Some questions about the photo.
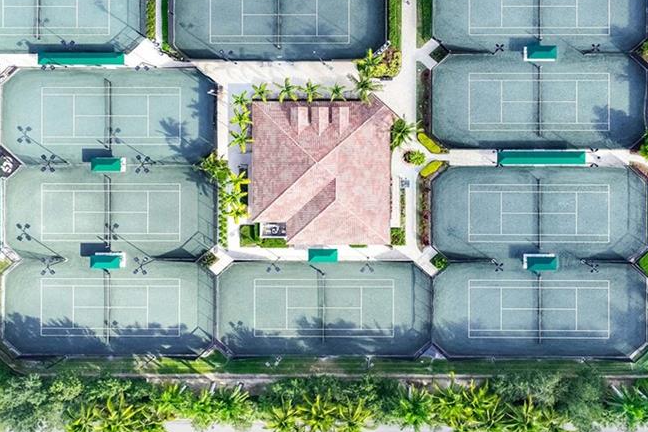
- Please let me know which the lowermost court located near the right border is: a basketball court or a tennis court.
tennis court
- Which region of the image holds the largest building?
center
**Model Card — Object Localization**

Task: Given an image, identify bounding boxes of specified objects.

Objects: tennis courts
[434,0,647,53]
[2,68,214,164]
[435,53,647,148]
[3,259,217,356]
[435,166,647,261]
[434,261,647,359]
[174,0,385,59]
[4,164,215,259]
[0,0,145,52]
[218,261,432,358]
